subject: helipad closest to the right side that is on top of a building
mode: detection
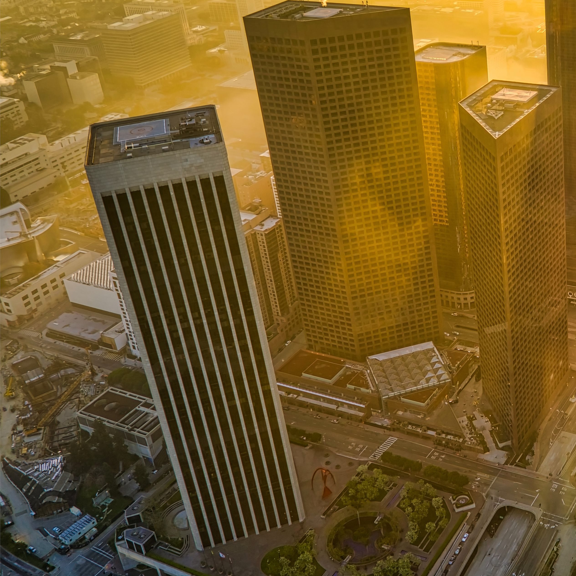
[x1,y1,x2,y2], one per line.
[492,89,537,104]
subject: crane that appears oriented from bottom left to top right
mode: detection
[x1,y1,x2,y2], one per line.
[24,361,100,438]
